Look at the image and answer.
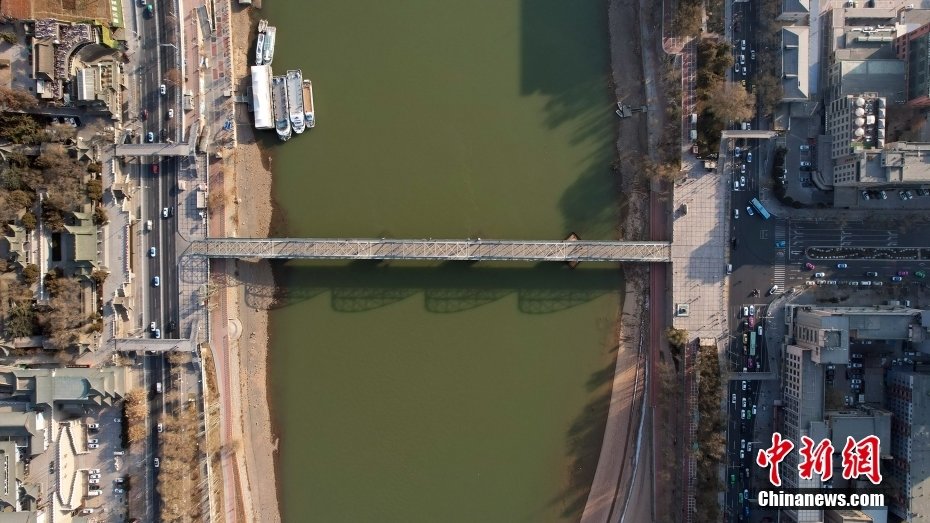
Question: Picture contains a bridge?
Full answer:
Yes, a bridge appears in the view.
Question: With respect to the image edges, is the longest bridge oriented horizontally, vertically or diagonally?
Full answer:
Seen from above, the longest bridge lies horizontally.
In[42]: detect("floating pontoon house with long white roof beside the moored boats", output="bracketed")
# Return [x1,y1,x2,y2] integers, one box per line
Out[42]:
[252,65,277,130]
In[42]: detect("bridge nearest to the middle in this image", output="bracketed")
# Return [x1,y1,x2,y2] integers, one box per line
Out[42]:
[192,233,672,268]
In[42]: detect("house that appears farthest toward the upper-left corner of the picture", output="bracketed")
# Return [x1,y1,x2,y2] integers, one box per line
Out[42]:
[34,38,57,80]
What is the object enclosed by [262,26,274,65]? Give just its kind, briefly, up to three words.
boat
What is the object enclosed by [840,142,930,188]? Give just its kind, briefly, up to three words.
building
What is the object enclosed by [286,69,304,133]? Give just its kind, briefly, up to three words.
boat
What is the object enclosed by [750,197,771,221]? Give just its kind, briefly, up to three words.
bus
